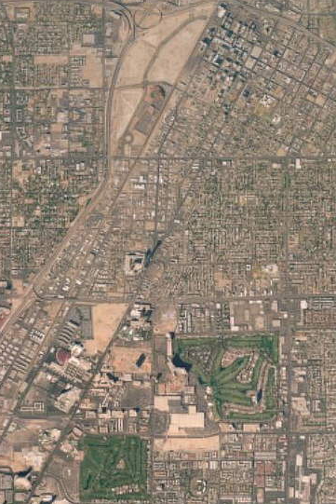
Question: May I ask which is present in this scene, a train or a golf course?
golf course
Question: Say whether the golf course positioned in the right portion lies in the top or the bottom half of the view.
bottom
